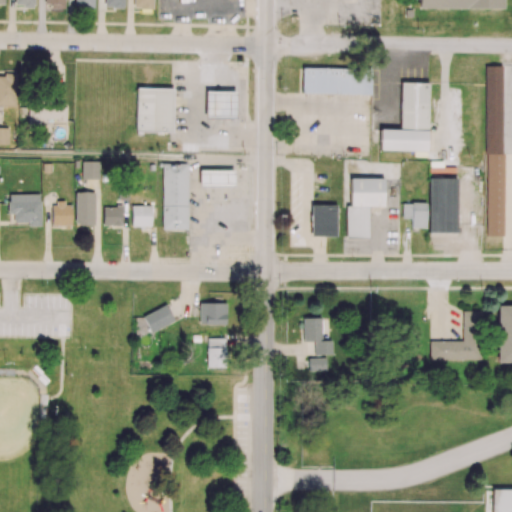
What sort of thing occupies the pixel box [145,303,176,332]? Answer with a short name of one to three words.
house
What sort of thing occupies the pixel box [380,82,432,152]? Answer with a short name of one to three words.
building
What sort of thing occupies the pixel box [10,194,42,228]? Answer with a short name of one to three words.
house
